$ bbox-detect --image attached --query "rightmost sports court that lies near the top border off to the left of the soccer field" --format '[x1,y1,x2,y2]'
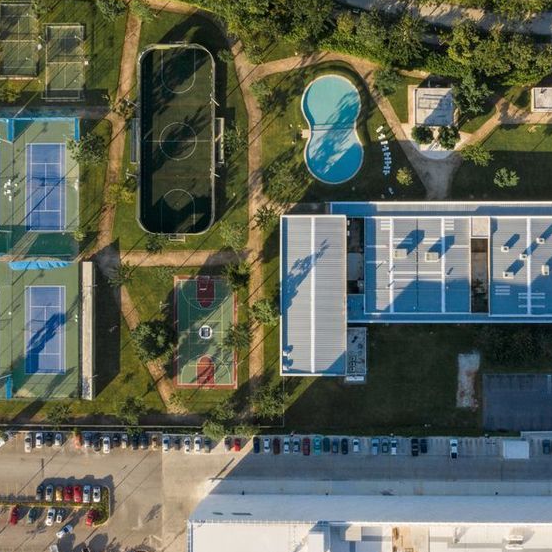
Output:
[42,22,84,100]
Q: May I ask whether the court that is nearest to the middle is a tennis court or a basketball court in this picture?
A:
basketball court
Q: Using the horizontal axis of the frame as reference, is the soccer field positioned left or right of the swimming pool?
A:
to its left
